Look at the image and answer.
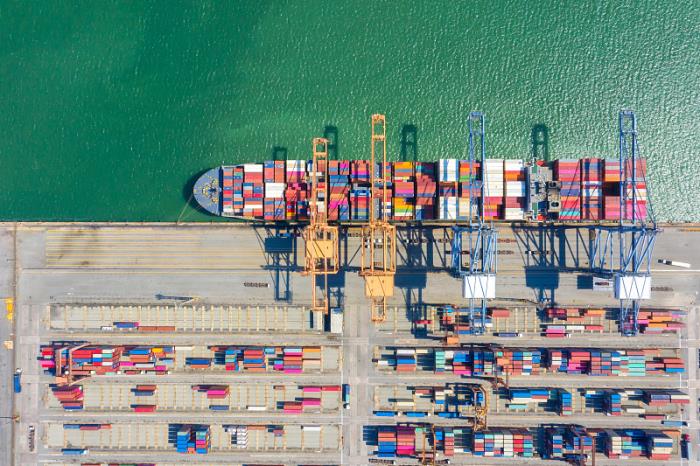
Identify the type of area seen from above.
port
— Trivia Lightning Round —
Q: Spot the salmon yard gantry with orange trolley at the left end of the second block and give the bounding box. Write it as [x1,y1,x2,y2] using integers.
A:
[57,342,91,388]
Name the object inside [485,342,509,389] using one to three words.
container crane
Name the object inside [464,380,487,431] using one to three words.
container crane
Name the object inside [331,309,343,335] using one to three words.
building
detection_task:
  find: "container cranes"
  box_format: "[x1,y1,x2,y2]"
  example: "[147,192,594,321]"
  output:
[438,111,501,334]
[416,420,436,466]
[464,380,487,431]
[566,420,596,466]
[57,342,91,388]
[304,138,344,314]
[564,109,656,335]
[485,342,509,389]
[438,300,459,346]
[355,115,397,321]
